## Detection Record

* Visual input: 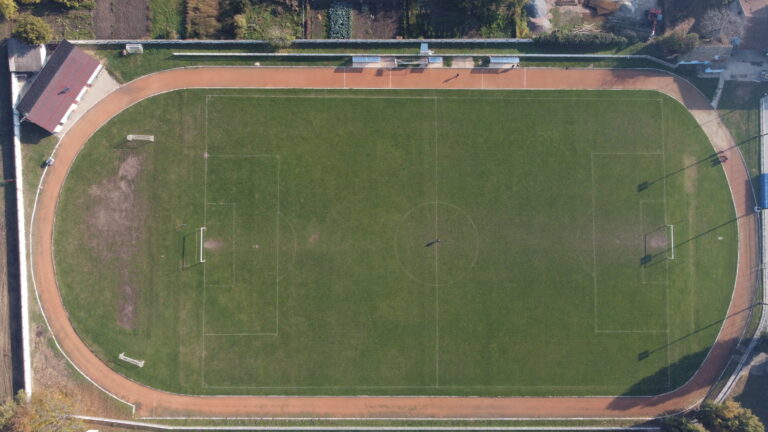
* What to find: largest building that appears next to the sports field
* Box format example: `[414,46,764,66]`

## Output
[17,40,105,132]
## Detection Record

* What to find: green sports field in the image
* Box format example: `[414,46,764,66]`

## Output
[52,88,738,397]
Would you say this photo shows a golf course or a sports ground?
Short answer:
sports ground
